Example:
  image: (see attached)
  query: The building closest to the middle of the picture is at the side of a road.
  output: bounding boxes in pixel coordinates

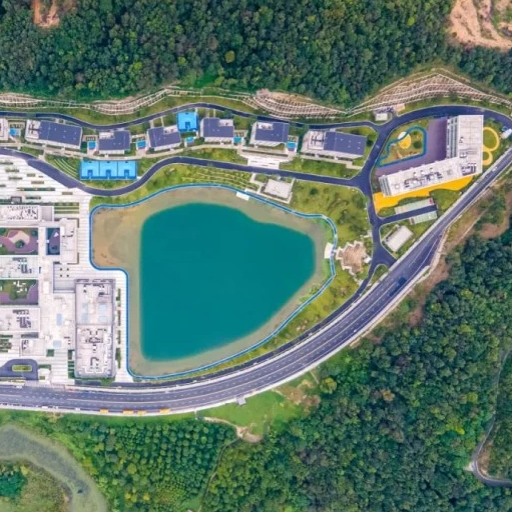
[263,181,292,198]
